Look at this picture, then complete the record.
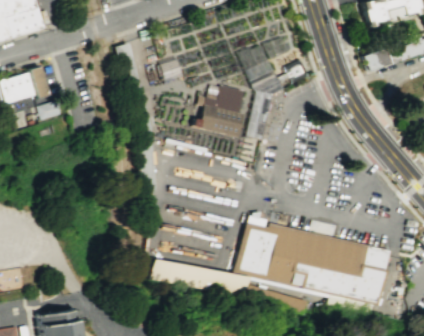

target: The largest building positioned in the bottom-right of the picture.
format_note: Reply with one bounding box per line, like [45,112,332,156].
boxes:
[229,223,391,302]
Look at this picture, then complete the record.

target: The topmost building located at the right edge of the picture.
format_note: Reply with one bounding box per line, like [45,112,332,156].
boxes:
[360,0,424,27]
